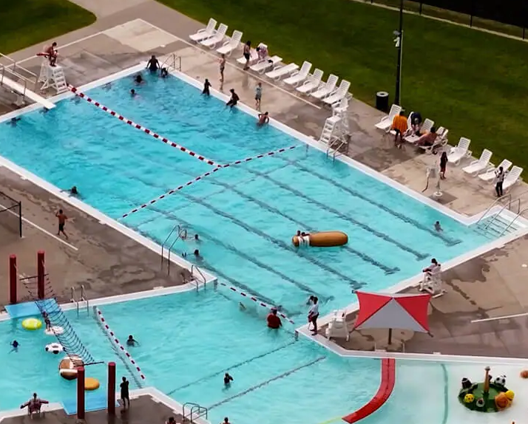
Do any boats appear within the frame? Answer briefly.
No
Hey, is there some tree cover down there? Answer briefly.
No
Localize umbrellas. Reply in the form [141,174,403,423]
[350,292,434,356]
